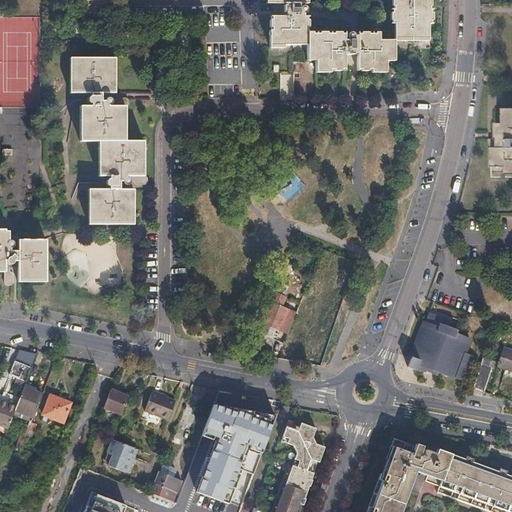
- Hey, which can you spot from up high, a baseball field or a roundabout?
roundabout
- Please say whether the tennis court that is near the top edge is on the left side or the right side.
left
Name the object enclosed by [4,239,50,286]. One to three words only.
building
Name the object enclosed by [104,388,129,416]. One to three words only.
house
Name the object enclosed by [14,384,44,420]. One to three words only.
house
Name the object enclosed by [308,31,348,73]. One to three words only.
building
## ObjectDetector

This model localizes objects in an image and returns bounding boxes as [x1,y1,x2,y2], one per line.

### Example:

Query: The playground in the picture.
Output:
[62,234,125,293]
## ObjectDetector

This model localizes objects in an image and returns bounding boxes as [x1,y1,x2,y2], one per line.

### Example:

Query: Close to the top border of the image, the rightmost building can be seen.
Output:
[392,0,435,48]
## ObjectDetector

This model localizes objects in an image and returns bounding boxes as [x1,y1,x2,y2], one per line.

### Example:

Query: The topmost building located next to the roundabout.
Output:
[408,312,472,378]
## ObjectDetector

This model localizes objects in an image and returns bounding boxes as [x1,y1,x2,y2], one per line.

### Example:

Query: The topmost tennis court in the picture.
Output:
[0,17,40,107]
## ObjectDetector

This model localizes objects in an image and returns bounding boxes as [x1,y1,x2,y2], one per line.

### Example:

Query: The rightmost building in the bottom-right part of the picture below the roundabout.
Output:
[368,439,512,512]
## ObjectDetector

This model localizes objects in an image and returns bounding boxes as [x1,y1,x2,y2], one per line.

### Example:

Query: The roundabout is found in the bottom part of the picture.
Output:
[335,361,395,421]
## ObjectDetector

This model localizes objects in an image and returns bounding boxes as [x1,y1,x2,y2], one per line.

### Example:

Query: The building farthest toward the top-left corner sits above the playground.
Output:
[71,57,118,94]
